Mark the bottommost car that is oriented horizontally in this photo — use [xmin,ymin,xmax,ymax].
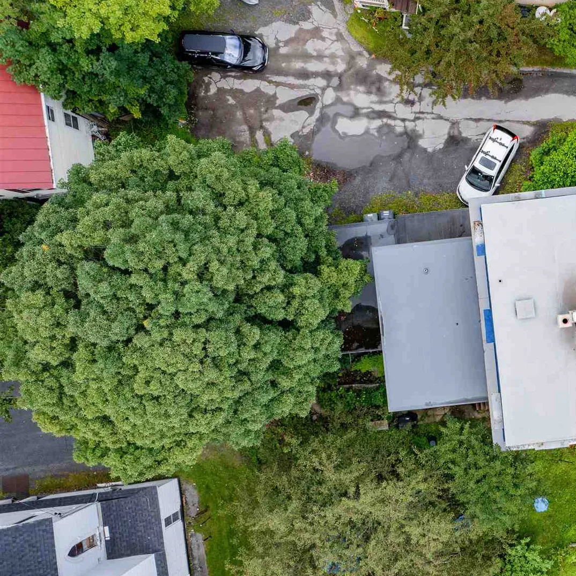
[173,26,267,74]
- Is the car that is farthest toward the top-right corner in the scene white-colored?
Yes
